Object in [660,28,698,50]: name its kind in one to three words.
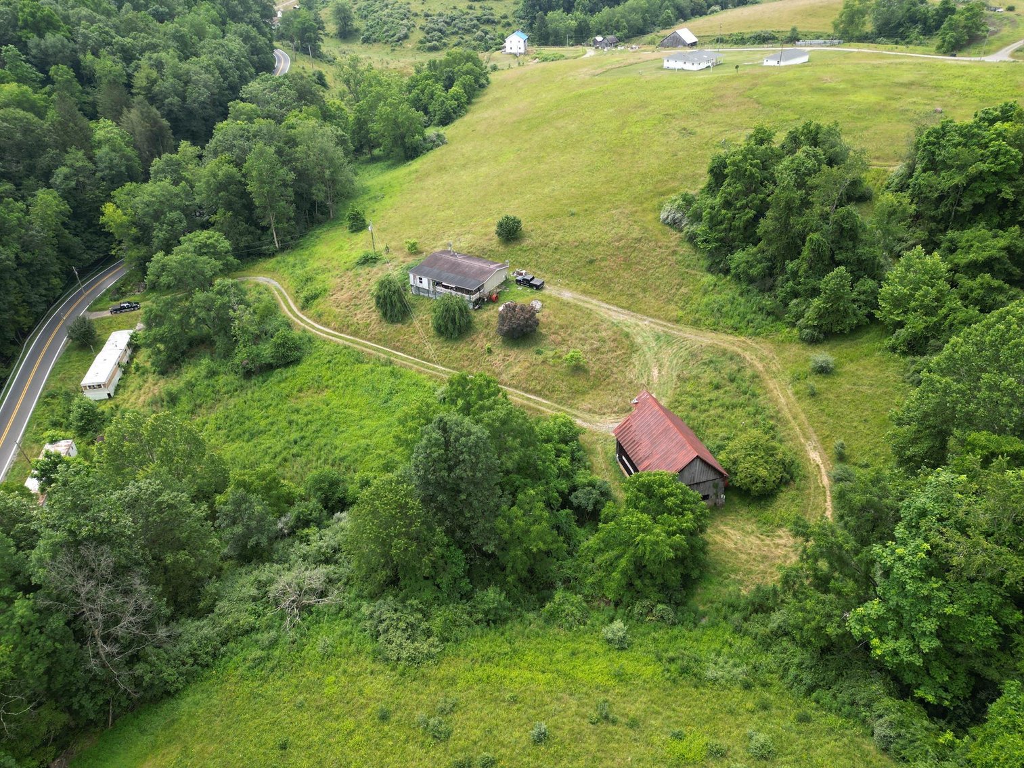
barn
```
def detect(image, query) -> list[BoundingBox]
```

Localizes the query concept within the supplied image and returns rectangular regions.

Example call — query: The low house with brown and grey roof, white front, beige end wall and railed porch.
[408,245,502,311]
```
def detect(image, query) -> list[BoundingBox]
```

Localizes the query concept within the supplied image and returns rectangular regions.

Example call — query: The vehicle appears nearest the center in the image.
[514,274,547,289]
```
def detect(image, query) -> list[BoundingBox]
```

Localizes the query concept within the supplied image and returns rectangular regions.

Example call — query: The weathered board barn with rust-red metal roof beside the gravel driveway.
[615,390,728,514]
